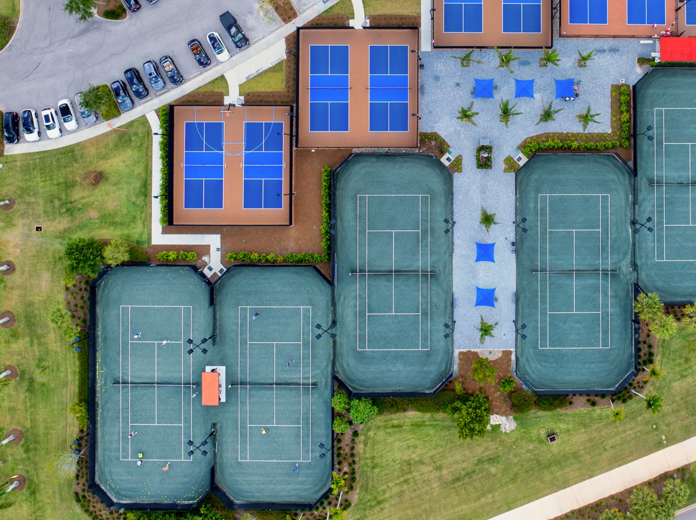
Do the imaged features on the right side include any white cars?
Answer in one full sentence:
No, I can find no white car on the right side.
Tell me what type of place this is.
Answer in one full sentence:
What you see here is a sports ground.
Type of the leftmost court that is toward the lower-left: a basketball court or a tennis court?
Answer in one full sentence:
Specifically, the leftmost court that is toward the lower-left is a tennis court.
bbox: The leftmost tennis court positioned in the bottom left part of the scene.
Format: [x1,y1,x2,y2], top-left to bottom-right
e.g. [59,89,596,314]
[96,266,214,502]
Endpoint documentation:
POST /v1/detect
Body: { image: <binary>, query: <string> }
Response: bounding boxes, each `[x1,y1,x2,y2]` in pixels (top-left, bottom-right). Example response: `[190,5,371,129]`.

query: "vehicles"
[123,0,142,14]
[17,108,44,143]
[1,111,22,145]
[108,77,136,112]
[56,98,82,132]
[206,31,231,62]
[217,9,251,51]
[186,37,214,69]
[121,65,150,101]
[39,106,64,139]
[72,91,100,126]
[158,53,185,86]
[142,58,167,92]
